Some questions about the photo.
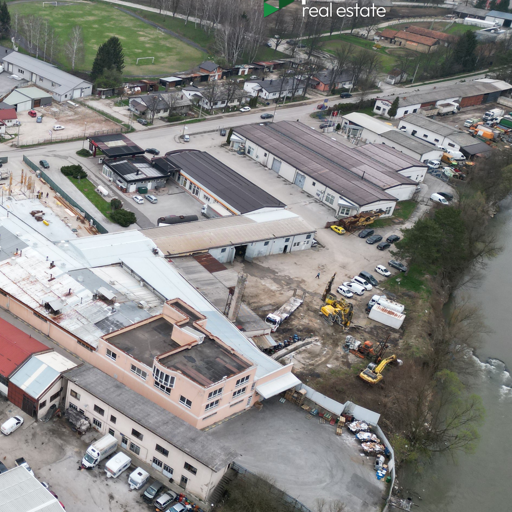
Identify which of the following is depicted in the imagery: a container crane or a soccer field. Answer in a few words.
soccer field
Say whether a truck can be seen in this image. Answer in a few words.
Yes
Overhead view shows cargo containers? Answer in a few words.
Yes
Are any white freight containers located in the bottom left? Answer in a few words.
No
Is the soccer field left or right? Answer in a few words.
left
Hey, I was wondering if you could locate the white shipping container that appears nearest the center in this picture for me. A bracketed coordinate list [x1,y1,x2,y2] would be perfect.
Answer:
[368,305,404,330]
